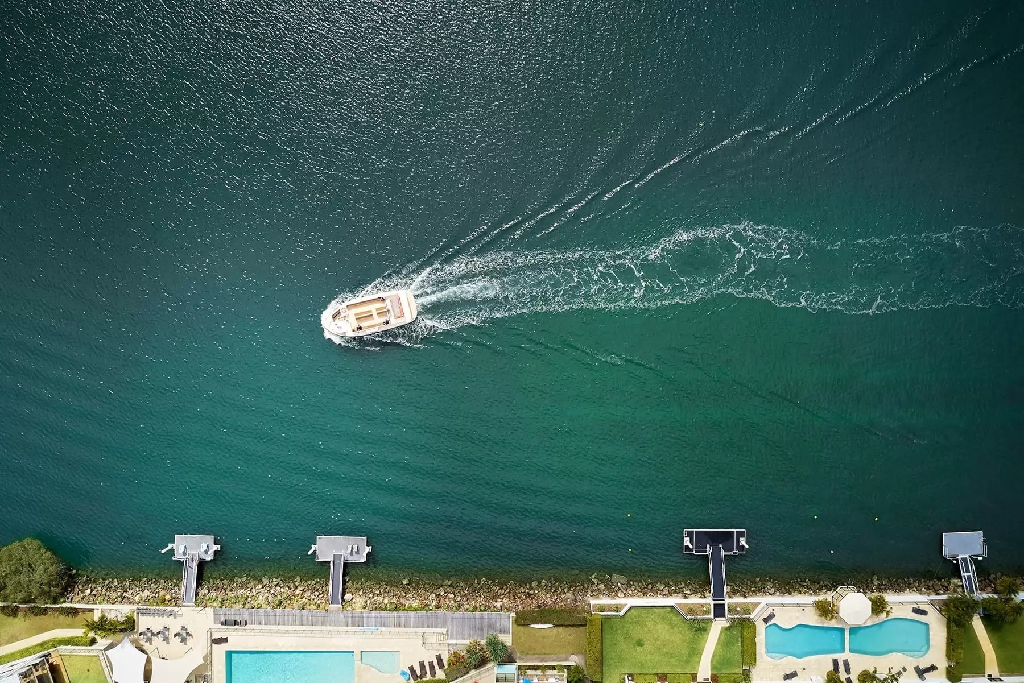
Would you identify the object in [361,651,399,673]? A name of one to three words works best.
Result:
swimming pool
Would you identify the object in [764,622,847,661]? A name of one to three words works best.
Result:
swimming pool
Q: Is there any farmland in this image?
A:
No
